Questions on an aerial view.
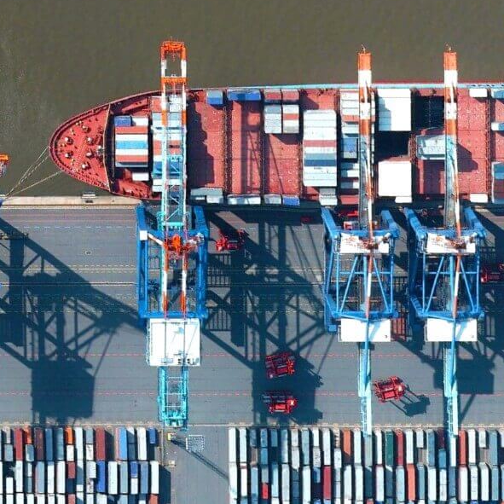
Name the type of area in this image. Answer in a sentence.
The picture captures a port.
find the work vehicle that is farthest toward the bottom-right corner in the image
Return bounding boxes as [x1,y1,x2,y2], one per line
[372,376,407,398]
